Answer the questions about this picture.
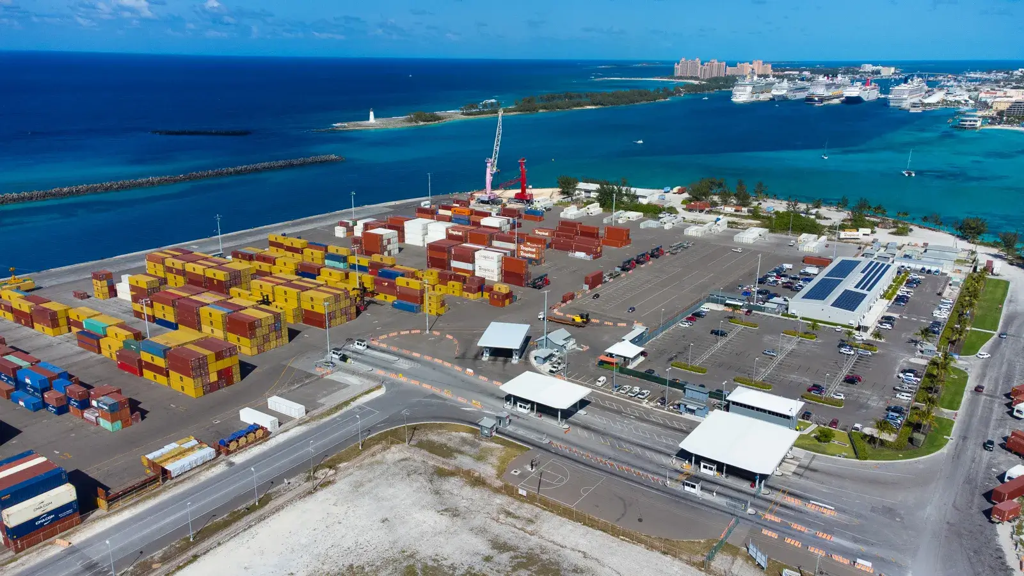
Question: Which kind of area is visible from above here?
port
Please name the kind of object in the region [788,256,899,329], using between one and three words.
building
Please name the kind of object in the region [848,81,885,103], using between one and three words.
ship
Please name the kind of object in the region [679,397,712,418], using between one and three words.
shed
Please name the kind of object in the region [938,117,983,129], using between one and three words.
house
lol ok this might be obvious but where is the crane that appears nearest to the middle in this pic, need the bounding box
[498,156,538,203]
